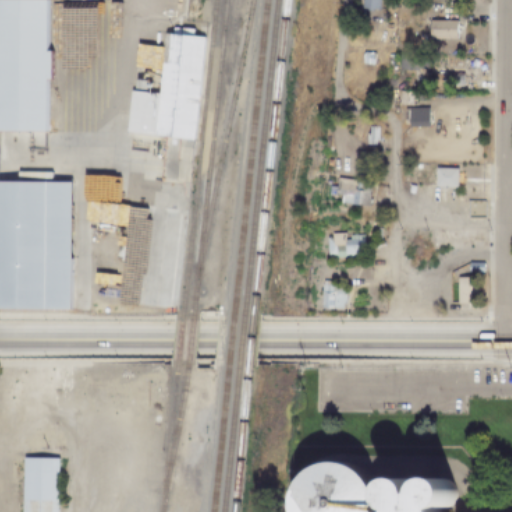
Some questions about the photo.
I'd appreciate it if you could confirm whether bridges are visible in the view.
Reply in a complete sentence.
Yes, looking at the shot, I can spot a bridge.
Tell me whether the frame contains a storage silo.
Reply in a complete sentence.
Yes, the image includes a storage silo.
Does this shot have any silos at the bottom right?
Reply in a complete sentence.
Yes, at the bottom right there is a silo.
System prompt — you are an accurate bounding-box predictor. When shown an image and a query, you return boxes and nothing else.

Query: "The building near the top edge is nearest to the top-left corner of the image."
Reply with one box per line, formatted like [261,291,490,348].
[0,0,56,131]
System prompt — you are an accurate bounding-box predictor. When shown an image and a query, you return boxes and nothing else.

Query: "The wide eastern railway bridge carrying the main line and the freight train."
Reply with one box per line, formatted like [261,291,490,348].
[216,314,264,364]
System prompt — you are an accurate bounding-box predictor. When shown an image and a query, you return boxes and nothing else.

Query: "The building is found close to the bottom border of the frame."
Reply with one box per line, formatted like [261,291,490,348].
[24,457,62,512]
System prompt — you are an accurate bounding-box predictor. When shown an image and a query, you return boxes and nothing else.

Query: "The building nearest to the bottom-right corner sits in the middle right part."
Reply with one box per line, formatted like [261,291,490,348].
[459,278,472,304]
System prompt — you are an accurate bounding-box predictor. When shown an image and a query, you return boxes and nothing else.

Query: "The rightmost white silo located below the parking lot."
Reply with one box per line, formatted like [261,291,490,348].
[398,474,456,510]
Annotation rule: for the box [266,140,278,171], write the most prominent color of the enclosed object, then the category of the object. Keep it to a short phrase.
white rail car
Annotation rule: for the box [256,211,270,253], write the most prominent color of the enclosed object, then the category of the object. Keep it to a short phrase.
white rail car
